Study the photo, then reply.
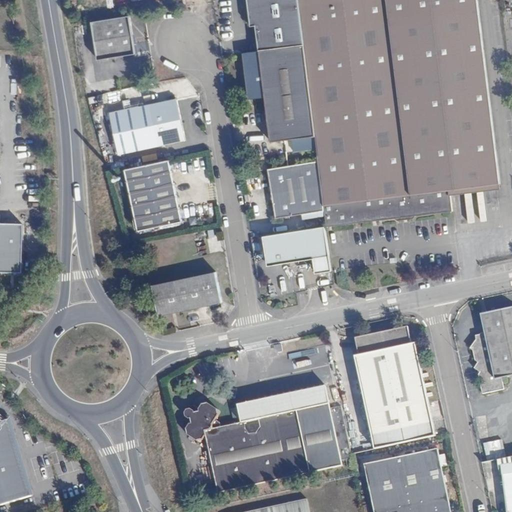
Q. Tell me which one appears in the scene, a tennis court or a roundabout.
roundabout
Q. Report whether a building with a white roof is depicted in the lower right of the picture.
Yes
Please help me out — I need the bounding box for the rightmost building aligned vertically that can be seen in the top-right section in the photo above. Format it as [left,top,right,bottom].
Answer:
[384,0,500,196]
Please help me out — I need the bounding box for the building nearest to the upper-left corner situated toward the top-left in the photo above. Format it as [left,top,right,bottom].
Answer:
[90,16,135,60]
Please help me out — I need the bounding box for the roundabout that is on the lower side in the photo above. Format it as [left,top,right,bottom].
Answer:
[17,250,166,474]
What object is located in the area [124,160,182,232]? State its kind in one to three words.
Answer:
building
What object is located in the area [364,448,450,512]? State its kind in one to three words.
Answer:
building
